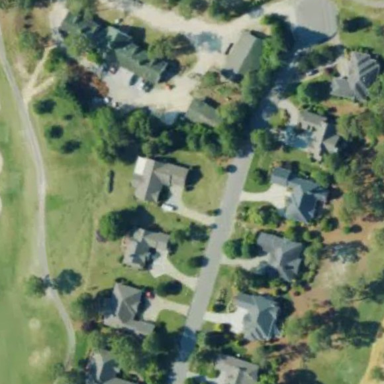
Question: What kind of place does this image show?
residential area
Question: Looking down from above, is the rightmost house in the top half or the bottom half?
top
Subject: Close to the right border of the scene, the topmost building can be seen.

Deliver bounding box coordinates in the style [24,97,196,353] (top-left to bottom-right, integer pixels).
[329,49,384,106]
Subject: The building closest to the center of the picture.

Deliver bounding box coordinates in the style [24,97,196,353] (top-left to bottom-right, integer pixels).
[132,153,191,204]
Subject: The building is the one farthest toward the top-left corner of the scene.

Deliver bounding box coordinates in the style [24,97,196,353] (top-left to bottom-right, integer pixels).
[86,18,176,84]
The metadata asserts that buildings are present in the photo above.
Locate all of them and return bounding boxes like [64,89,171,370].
[329,49,384,106]
[225,30,267,78]
[256,228,305,282]
[86,18,176,84]
[124,228,175,272]
[267,164,329,224]
[101,278,158,336]
[234,290,283,343]
[298,108,344,159]
[89,348,130,384]
[132,153,191,204]
[214,355,262,384]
